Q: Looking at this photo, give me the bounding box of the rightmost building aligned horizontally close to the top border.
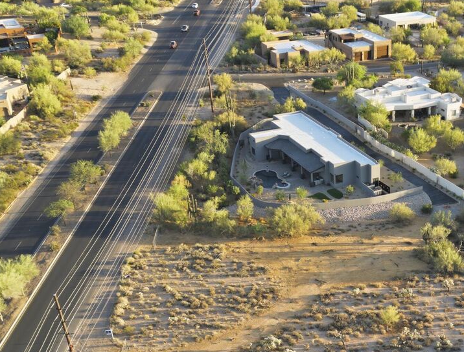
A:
[379,11,436,31]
